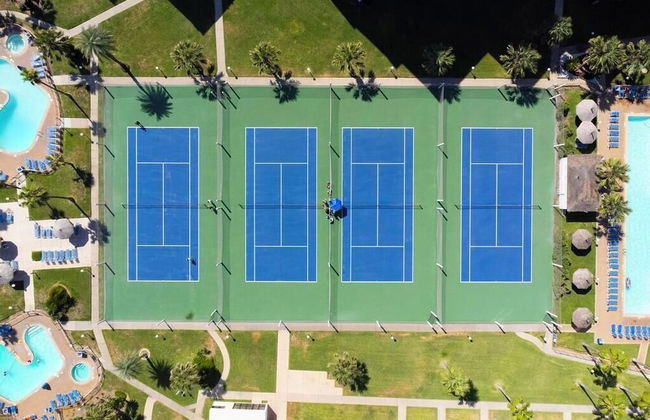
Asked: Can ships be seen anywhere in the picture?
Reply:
No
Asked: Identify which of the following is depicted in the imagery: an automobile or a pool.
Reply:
pool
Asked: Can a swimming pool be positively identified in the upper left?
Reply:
Yes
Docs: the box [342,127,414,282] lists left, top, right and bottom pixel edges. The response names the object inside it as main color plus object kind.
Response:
blue tennis court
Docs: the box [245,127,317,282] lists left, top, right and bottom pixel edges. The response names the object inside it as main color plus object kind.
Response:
blue tennis court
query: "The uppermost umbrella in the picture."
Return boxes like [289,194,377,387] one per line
[576,101,596,121]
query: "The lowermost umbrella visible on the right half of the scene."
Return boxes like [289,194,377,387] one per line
[571,310,592,331]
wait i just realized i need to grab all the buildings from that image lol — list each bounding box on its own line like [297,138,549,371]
[560,153,604,213]
[206,402,267,420]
